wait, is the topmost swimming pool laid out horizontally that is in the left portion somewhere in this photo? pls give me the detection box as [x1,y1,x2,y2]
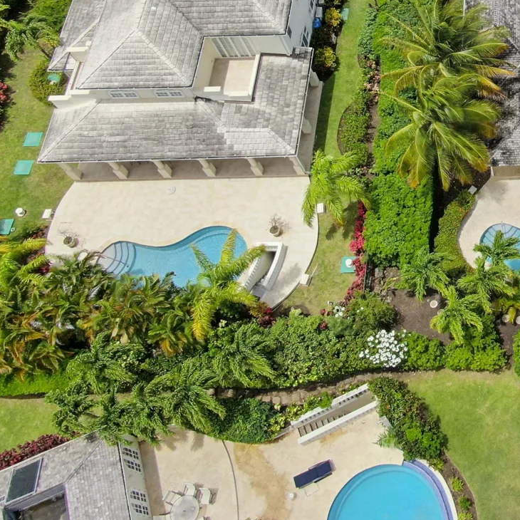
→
[91,220,252,292]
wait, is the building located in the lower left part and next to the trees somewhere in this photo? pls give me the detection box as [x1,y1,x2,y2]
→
[0,435,145,520]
